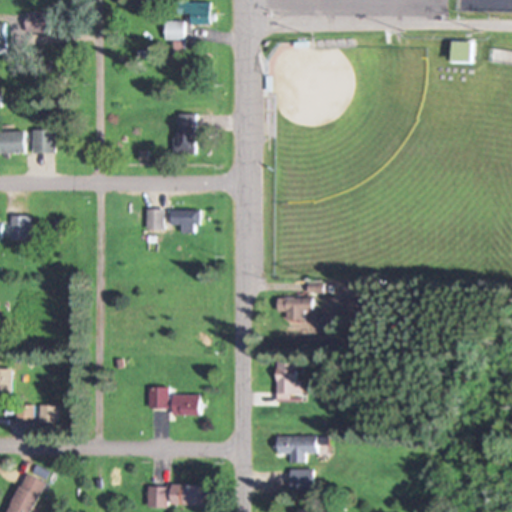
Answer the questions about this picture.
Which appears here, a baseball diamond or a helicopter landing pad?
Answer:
baseball diamond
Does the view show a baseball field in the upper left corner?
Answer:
No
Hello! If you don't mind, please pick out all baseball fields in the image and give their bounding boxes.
[268,42,428,202]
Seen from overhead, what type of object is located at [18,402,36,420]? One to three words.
shed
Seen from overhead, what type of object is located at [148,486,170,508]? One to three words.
building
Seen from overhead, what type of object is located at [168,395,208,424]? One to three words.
house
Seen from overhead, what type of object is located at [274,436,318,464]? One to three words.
house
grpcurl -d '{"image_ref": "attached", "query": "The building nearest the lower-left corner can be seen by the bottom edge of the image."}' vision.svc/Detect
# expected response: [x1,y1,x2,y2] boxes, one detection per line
[6,474,48,512]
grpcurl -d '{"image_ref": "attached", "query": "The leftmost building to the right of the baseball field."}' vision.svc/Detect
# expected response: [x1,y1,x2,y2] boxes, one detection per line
[450,40,474,64]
